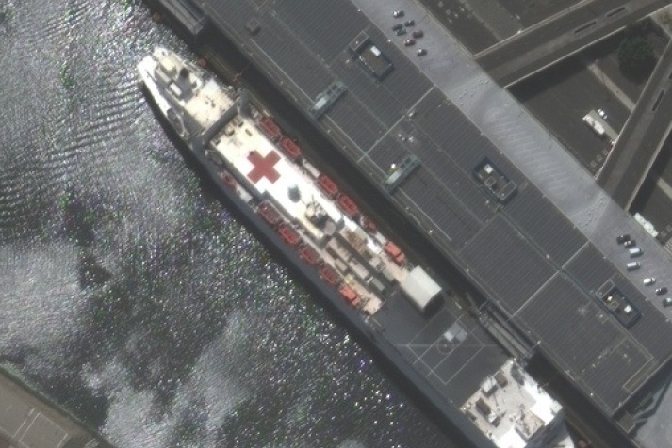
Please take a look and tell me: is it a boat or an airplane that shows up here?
boat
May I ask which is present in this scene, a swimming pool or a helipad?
helipad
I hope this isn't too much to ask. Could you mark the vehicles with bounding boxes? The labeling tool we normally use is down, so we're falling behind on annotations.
[628,262,641,269]
[413,31,425,38]
[664,299,672,304]
[598,110,609,119]
[583,115,605,132]
[656,288,668,293]
[404,20,416,27]
[625,241,637,247]
[404,39,416,45]
[618,235,630,242]
[397,29,409,35]
[392,11,404,17]
[629,249,642,256]
[643,278,655,285]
